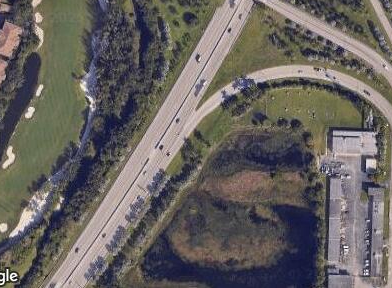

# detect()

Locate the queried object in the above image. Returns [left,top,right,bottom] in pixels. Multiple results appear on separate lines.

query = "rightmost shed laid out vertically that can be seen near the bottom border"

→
[369,188,384,276]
